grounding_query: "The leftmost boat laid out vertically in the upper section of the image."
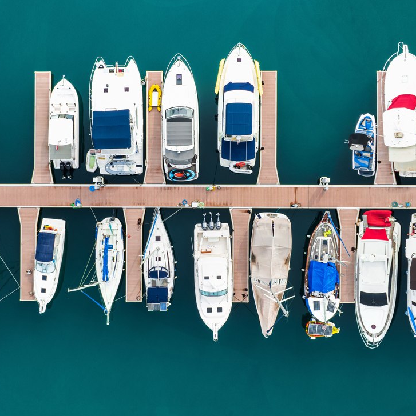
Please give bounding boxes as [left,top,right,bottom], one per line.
[49,75,81,180]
